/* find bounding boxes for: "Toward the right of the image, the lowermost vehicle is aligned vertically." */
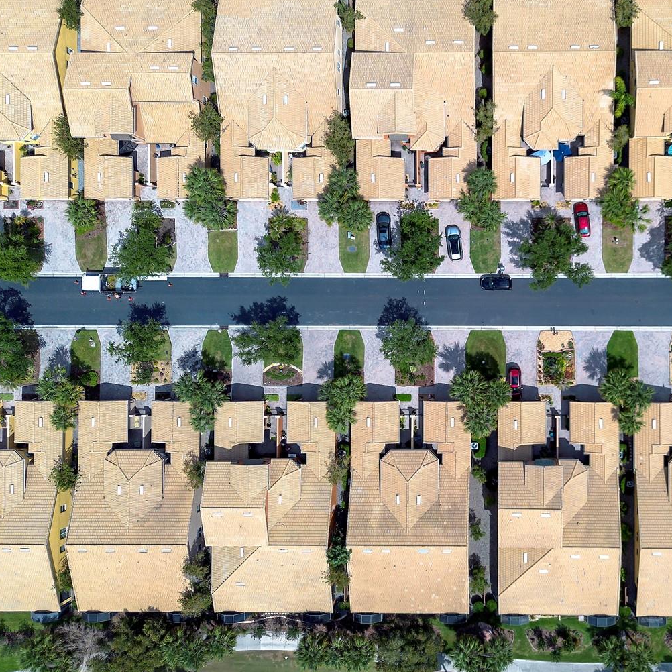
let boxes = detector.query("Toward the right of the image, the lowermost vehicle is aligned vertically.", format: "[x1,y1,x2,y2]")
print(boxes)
[507,365,523,398]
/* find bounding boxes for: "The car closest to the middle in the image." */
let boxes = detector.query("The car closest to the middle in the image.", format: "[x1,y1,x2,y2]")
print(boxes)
[374,213,391,247]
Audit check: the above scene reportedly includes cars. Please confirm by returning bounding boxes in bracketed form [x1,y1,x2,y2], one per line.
[480,274,513,290]
[374,213,391,247]
[572,202,589,236]
[507,365,523,398]
[445,224,462,260]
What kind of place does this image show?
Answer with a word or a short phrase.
residential area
